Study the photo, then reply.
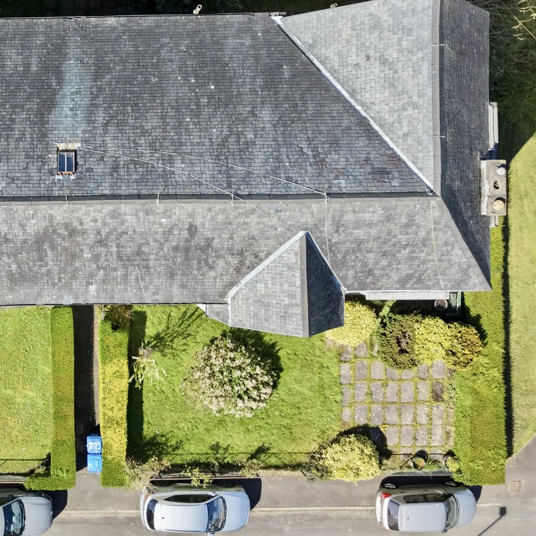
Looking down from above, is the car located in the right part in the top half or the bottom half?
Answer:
bottom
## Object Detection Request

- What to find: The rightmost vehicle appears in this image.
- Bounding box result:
[373,480,473,536]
